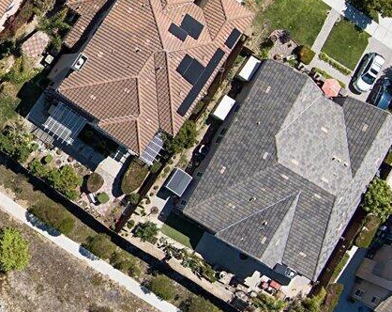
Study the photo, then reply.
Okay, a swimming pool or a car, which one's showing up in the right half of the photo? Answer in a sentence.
The one visible in the right half of the photo is a car.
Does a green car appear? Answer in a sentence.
No, the frame has no green car in it.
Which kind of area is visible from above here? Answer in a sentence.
This image shows a residential area.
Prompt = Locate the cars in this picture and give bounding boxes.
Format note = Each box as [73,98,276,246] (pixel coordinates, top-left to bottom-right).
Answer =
[350,46,391,95]
[364,68,392,109]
